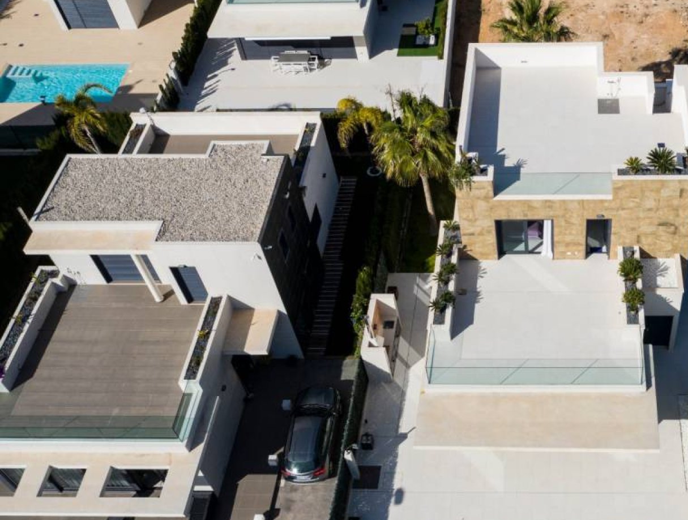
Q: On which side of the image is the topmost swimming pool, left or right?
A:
left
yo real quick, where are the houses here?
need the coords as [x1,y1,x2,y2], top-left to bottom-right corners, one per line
[0,112,341,520]
[44,0,152,29]
[209,0,391,60]
[413,42,688,453]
